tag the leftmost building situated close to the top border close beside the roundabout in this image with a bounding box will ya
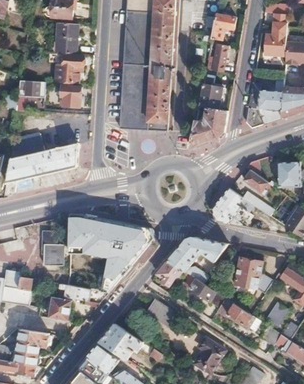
[120,0,150,130]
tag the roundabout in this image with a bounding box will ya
[128,156,224,226]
